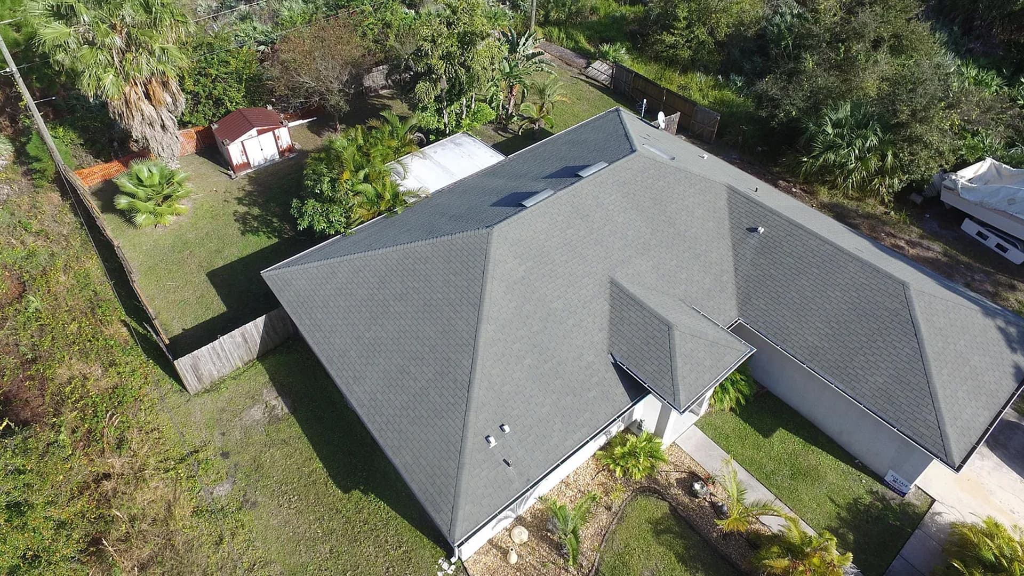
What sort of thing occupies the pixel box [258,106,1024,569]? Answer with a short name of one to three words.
house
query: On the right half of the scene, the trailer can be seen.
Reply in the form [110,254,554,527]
[941,196,1024,258]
